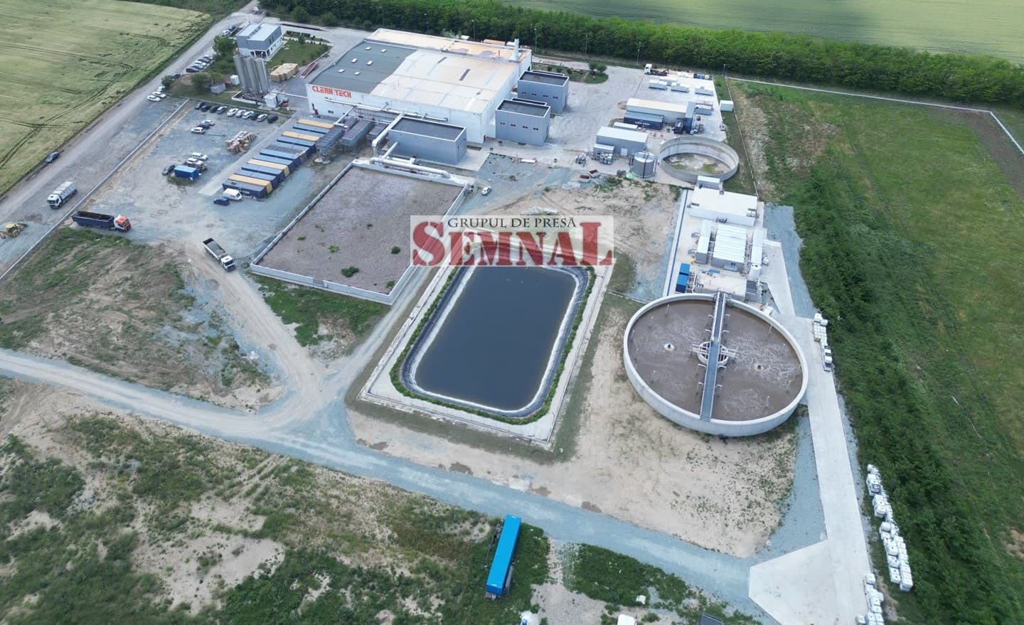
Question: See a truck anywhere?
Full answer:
Yes, there's a truck down there.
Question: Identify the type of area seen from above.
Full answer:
What you see here is an industrial area.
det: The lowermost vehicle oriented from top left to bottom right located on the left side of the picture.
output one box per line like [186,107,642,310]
[198,237,232,271]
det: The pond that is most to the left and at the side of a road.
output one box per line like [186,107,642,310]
[392,238,594,421]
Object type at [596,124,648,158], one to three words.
shed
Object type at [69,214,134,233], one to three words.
vehicle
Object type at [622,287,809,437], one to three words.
storage tank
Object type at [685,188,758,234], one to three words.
building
